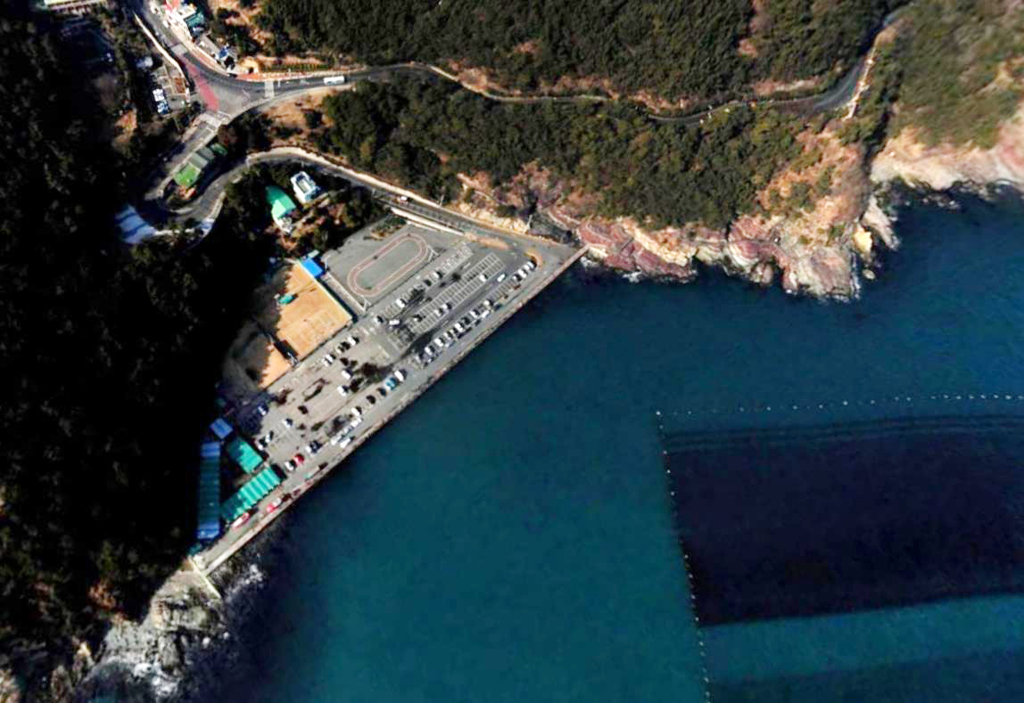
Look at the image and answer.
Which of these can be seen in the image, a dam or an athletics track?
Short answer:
athletics track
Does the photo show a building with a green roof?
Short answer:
Yes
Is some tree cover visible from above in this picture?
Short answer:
Yes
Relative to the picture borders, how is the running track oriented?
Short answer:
at an angle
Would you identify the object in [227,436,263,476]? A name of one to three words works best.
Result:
building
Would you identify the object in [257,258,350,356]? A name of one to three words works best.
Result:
sports court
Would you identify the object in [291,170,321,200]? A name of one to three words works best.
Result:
house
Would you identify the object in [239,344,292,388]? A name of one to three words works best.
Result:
sports court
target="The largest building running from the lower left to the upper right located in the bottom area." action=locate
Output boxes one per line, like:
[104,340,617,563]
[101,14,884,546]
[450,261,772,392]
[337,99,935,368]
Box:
[221,467,281,524]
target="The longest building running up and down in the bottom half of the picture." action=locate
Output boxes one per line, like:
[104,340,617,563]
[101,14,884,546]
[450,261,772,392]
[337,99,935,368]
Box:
[197,442,221,543]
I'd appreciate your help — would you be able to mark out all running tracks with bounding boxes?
[348,232,428,297]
